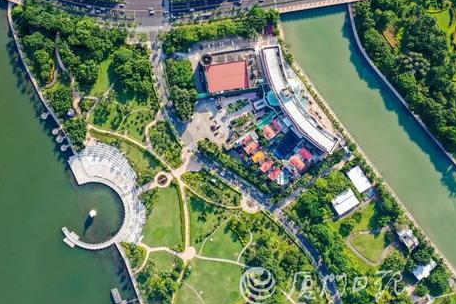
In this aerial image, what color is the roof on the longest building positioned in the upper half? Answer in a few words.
white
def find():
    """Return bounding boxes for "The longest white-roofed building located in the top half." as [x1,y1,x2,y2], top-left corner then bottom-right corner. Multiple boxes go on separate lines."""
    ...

[258,46,339,152]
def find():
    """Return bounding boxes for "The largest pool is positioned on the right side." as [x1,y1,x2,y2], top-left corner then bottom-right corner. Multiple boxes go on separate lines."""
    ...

[274,133,299,157]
